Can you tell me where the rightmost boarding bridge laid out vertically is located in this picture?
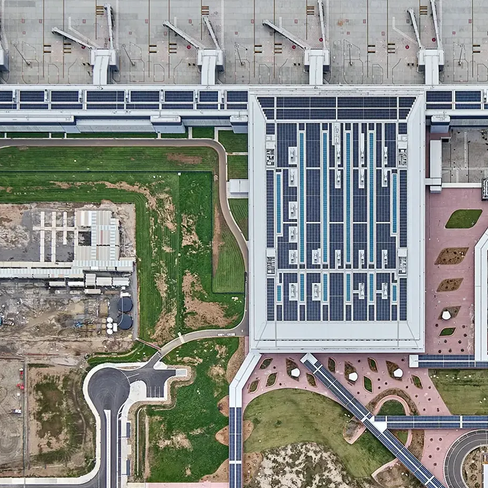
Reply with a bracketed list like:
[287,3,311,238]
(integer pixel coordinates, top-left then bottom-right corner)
[427,0,441,50]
